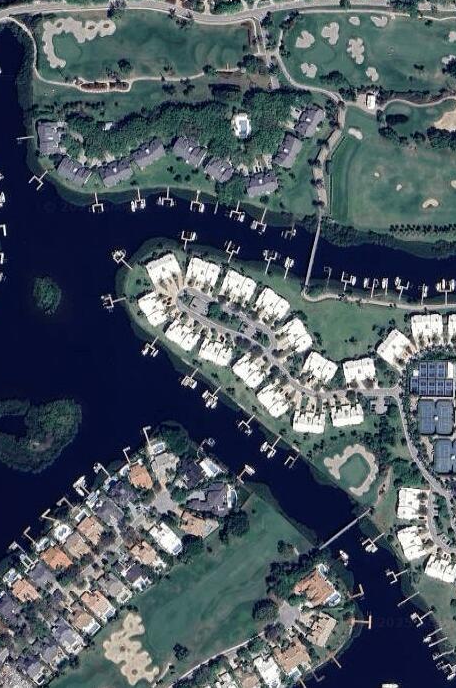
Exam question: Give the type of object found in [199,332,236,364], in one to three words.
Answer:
house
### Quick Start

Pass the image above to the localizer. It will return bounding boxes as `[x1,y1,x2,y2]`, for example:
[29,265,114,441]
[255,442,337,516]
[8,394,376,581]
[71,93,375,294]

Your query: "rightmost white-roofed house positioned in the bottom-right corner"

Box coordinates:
[425,547,456,582]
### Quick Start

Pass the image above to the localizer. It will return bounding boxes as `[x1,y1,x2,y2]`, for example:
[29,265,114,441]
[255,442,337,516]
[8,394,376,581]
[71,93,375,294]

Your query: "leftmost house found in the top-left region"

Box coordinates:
[40,126,58,154]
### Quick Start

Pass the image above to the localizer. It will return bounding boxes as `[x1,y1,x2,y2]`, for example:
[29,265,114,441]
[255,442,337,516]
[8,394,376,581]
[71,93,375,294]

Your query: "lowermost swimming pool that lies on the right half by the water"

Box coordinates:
[282,666,300,681]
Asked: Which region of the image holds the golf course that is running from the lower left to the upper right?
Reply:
bottom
